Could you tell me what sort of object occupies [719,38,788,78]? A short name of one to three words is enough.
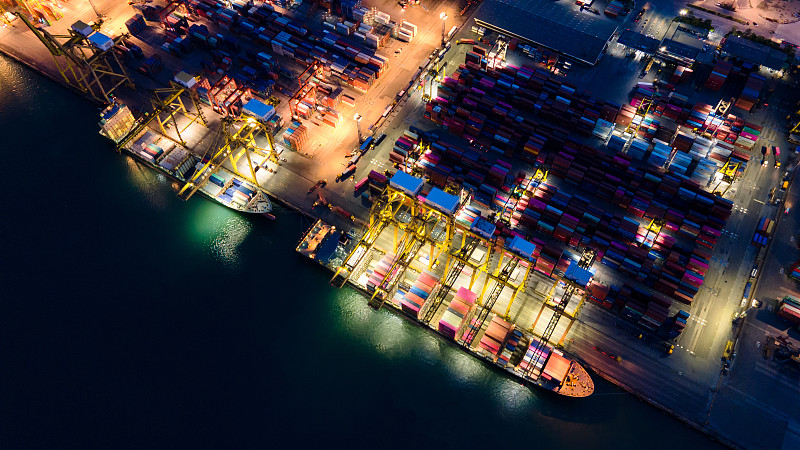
shed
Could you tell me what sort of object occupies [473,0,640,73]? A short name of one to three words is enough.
building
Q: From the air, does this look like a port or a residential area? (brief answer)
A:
port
